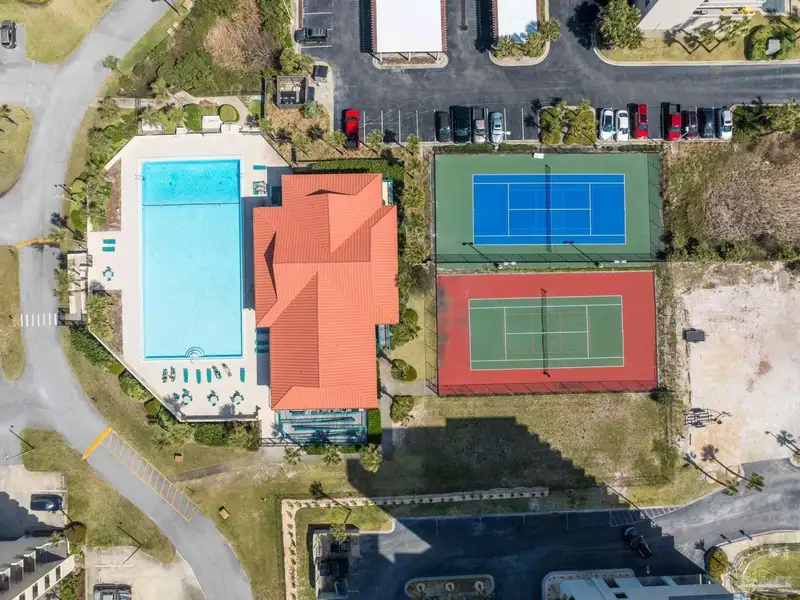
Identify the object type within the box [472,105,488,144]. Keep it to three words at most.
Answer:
vehicle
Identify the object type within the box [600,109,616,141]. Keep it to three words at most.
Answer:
car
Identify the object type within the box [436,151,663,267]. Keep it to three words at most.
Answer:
tennis court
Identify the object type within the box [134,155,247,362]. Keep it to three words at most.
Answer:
swimming pool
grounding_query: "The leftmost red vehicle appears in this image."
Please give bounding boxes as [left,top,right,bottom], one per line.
[343,109,359,148]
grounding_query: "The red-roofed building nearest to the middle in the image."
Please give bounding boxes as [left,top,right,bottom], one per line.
[253,173,398,410]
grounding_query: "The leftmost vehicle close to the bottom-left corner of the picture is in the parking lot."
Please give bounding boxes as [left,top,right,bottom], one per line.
[30,495,63,511]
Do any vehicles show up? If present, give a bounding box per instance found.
[698,108,716,141]
[633,104,651,140]
[438,110,452,143]
[472,105,488,144]
[343,109,359,148]
[716,109,734,141]
[0,20,17,50]
[683,109,700,140]
[663,102,681,141]
[295,27,328,45]
[30,495,63,511]
[455,106,470,143]
[491,112,506,144]
[616,110,631,142]
[600,109,616,141]
[92,586,131,600]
